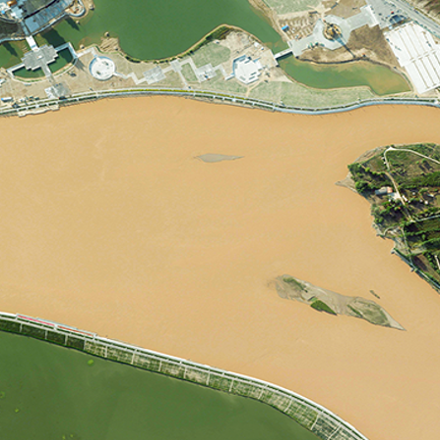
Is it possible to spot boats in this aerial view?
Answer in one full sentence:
No, the photo shows no boat.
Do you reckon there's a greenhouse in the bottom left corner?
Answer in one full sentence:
No, I see no greenhouse in the bottom left corner.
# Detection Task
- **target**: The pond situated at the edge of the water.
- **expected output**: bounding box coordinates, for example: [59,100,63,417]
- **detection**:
[279,57,411,95]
